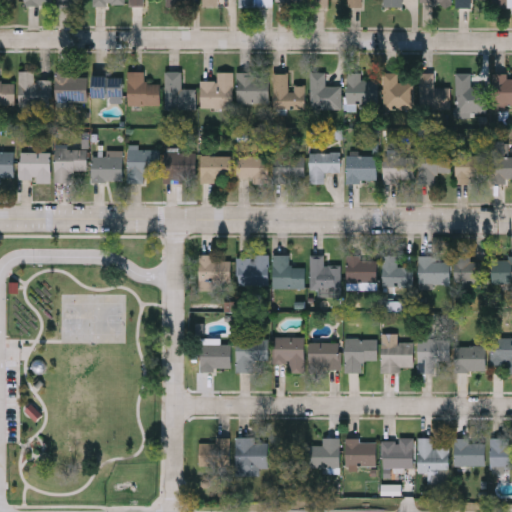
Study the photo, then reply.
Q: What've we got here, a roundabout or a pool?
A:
pool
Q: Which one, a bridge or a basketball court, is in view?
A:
basketball court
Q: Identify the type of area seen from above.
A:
residential area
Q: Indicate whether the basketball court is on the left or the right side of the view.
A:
left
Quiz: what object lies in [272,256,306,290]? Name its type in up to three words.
house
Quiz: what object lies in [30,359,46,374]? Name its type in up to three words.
gazebo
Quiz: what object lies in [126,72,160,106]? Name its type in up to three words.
house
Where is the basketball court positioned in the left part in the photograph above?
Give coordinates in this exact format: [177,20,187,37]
[62,294,126,344]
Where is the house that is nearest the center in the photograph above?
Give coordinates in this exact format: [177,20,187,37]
[236,256,269,286]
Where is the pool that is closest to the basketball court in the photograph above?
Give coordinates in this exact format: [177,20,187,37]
[205,318,231,338]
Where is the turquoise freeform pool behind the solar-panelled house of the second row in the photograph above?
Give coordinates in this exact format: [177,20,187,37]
[99,104,124,122]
